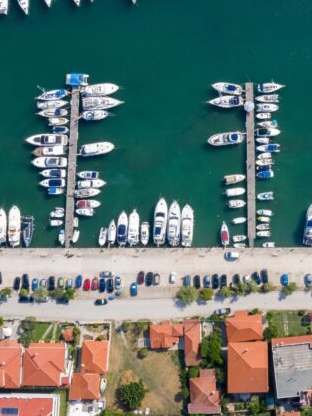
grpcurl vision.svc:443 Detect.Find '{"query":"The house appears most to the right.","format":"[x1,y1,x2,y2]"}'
[272,334,312,403]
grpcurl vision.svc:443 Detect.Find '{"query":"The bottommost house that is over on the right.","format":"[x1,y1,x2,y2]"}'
[188,369,220,412]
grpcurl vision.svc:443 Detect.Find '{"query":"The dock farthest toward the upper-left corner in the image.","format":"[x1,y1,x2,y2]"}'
[64,87,79,248]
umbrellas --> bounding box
[244,102,254,112]
[4,327,13,336]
